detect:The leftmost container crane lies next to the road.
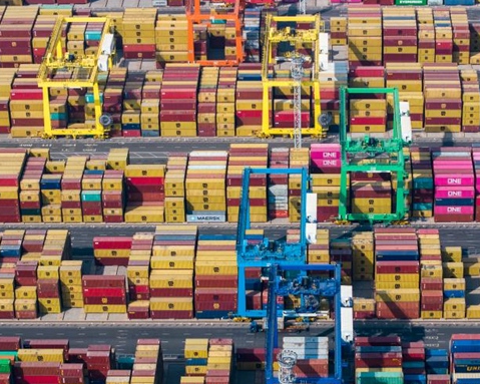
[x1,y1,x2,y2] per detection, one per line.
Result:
[34,20,118,138]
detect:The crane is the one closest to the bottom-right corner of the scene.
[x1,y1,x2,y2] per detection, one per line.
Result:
[261,262,356,384]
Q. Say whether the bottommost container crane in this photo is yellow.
No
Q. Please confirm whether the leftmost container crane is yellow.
Yes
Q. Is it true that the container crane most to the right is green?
Yes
